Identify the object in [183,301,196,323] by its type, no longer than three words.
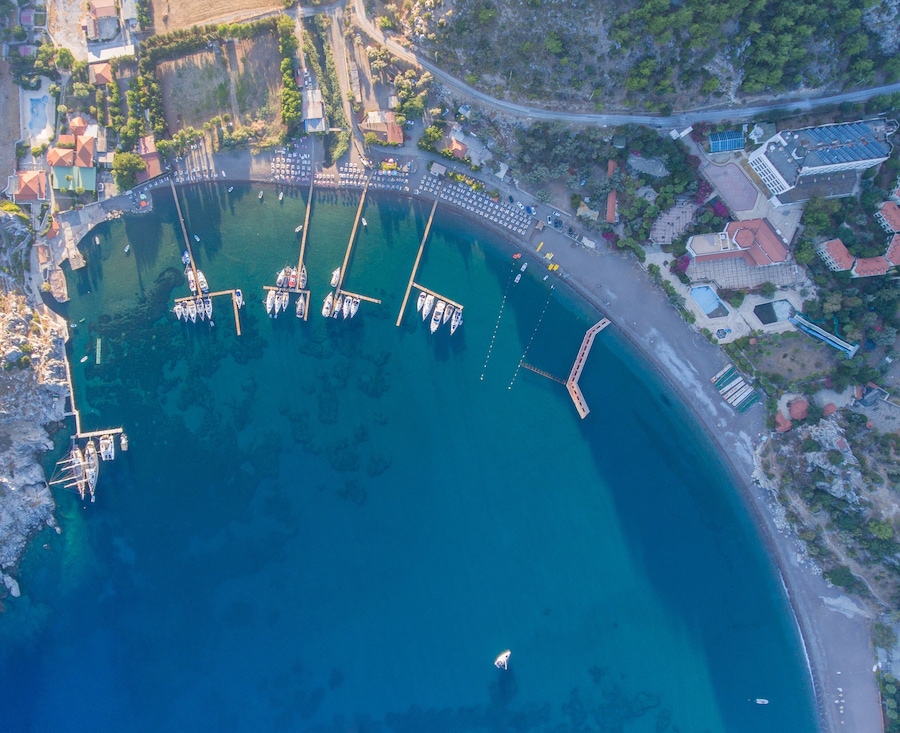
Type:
boat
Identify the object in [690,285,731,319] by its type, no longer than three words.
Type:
swimming pool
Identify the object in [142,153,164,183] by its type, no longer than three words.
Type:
house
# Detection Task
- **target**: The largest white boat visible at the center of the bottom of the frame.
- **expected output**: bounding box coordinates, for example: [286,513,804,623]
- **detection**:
[495,650,510,668]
